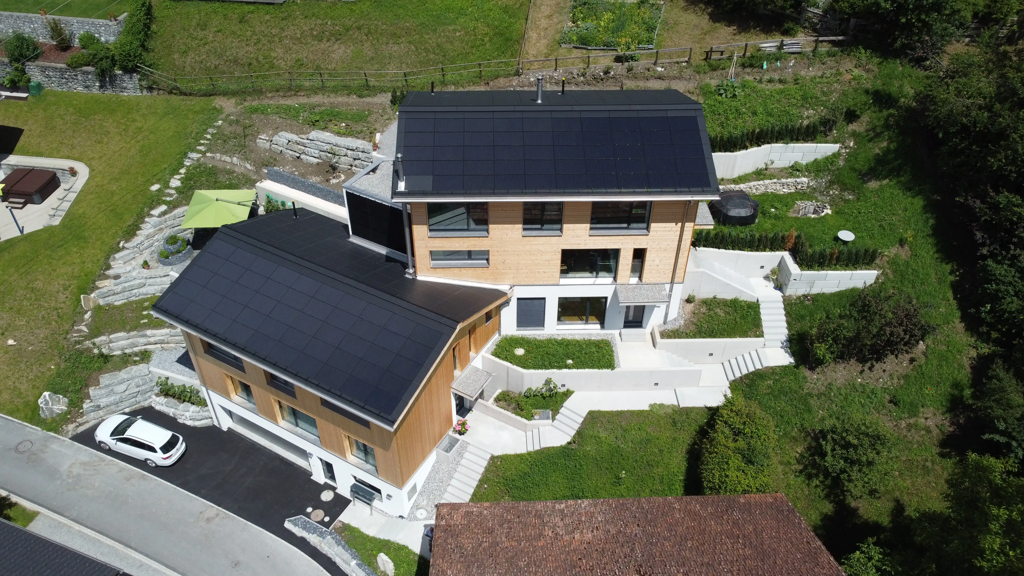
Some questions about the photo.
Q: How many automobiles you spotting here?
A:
1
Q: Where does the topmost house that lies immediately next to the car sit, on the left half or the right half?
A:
left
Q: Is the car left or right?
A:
left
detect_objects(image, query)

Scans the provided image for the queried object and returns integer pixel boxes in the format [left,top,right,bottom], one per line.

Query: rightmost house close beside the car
[148,201,511,520]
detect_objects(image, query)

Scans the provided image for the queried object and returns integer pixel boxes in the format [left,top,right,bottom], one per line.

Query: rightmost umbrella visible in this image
[181,162,261,228]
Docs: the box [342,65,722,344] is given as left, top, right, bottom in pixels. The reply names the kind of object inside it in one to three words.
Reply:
house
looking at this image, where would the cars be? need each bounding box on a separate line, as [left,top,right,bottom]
[89,409,188,470]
